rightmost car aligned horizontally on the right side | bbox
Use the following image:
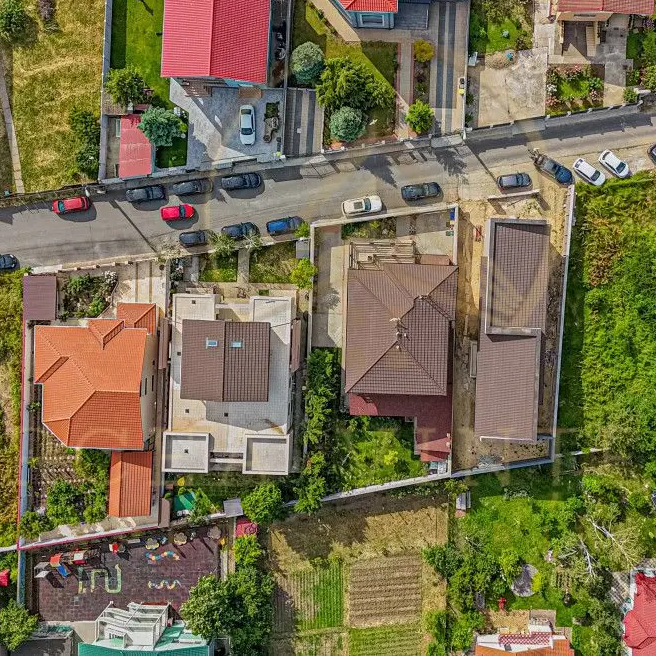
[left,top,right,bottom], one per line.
[497,173,530,190]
